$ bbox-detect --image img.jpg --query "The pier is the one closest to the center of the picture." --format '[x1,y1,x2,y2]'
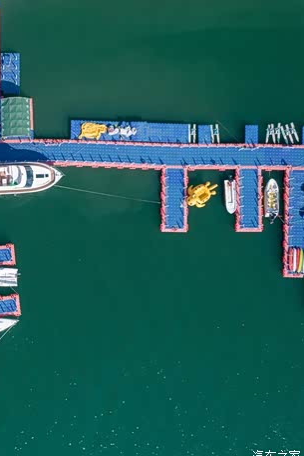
[158,170,188,232]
